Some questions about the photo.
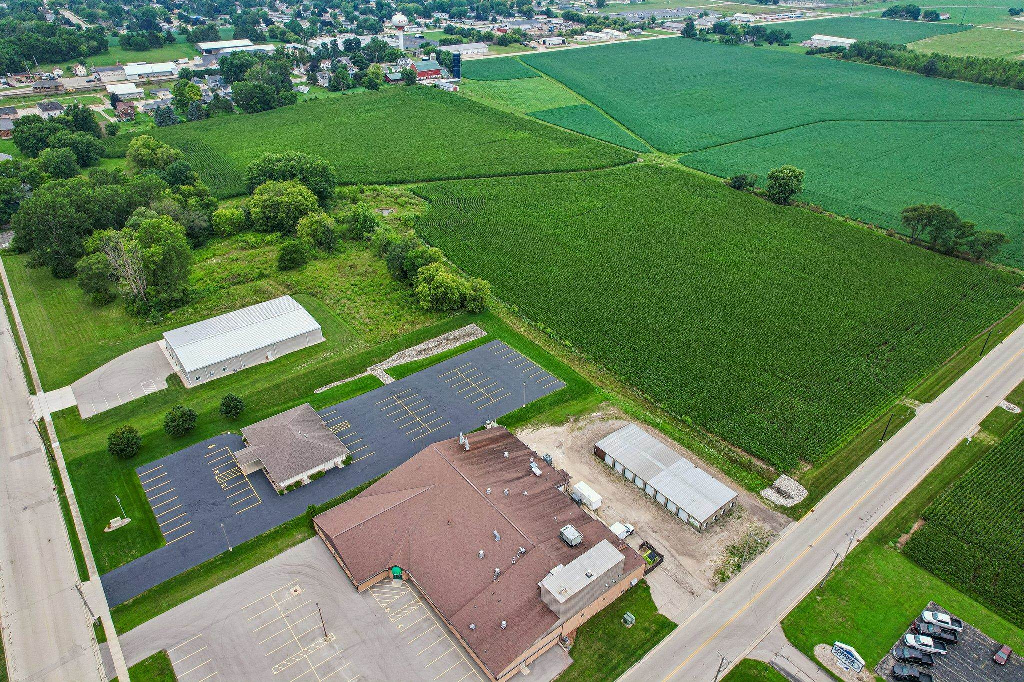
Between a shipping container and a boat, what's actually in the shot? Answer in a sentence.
This aerial view contains a shipping container.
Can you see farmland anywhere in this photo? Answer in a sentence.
Yes, farmland shows up in the scene.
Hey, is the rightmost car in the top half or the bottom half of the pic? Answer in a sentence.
The rightmost car sits in the bottom half of the picture.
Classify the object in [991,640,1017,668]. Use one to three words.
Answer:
car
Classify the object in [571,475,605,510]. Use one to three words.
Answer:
shipping container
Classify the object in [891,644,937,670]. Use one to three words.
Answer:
truck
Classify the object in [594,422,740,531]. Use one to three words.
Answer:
building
